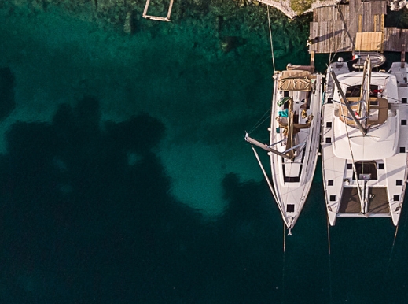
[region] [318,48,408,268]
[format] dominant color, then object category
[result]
white boat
